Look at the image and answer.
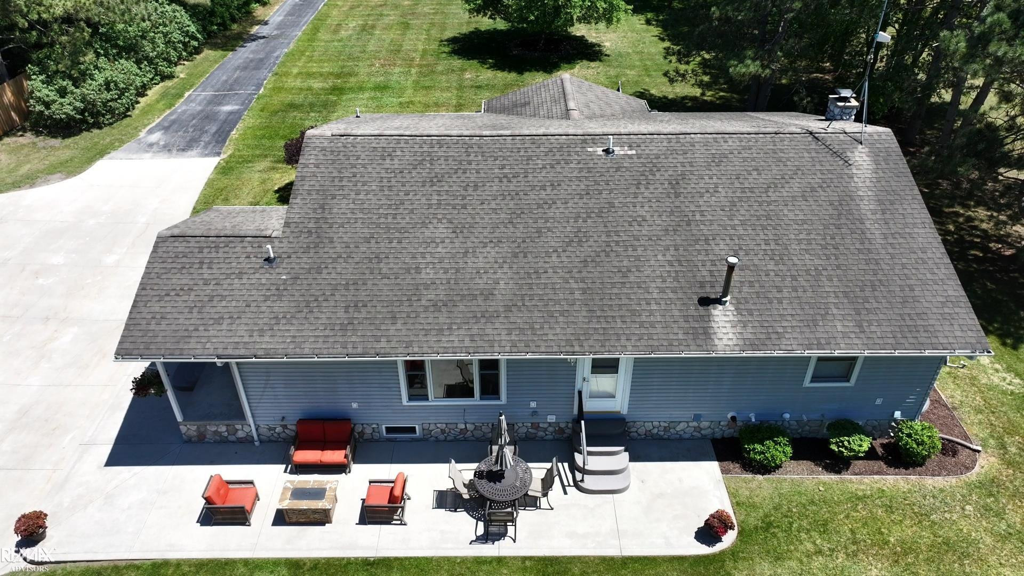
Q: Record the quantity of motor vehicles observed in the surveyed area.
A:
zero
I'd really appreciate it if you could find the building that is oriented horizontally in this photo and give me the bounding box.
[111,73,997,448]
